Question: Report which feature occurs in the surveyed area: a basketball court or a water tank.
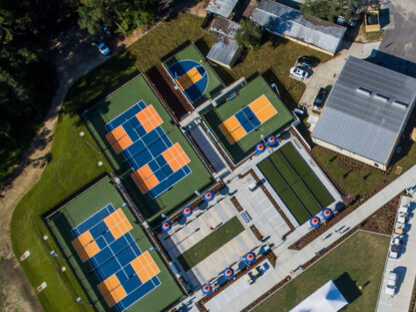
basketball court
